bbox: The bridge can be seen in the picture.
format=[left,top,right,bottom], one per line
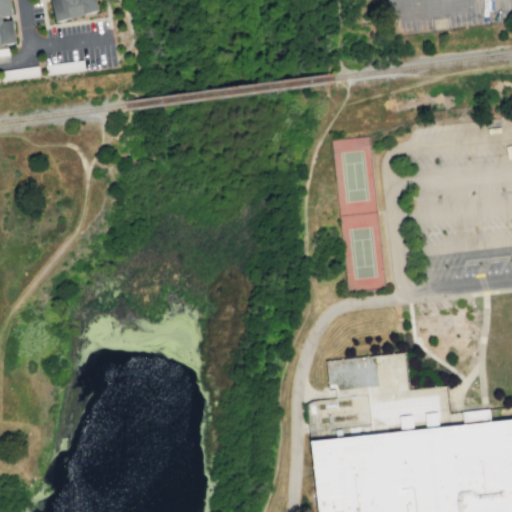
[124,75,335,109]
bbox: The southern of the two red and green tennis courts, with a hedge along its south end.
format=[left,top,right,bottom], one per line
[341,212,385,291]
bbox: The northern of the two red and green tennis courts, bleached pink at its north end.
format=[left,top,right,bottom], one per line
[334,138,378,215]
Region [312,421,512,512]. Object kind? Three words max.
building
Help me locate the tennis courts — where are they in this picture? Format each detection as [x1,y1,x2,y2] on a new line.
[334,138,378,215]
[341,212,385,291]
